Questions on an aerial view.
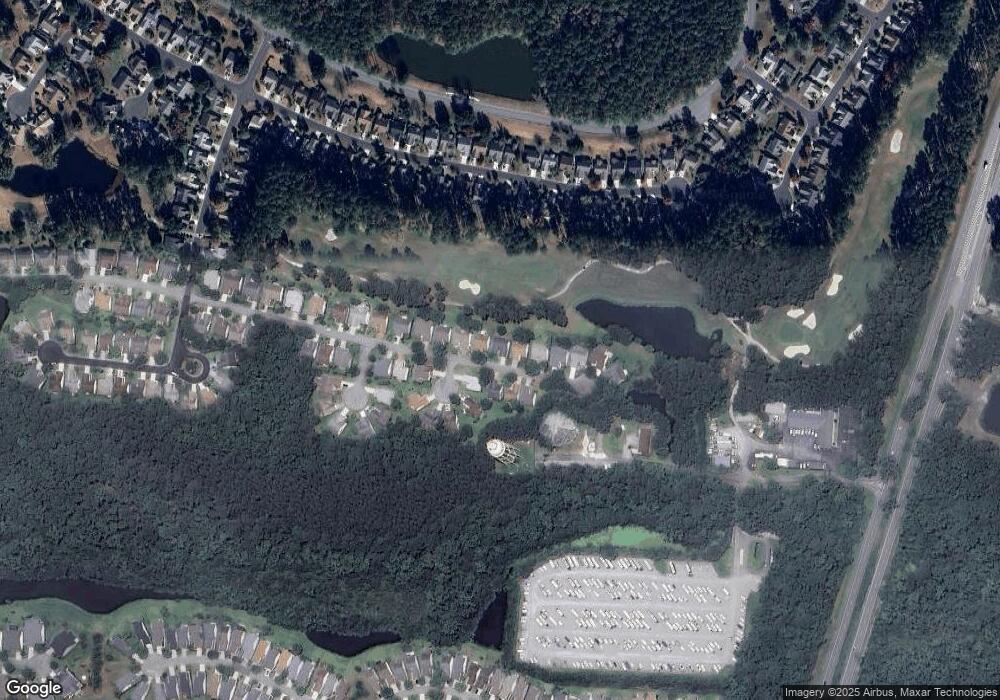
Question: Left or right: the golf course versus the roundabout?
on the right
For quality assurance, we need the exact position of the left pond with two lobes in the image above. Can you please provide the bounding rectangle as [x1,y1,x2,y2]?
[4,138,118,198]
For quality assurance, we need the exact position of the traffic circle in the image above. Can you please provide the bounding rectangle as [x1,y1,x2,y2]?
[176,353,210,385]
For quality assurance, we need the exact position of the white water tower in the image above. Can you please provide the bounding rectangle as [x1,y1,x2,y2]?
[487,438,521,467]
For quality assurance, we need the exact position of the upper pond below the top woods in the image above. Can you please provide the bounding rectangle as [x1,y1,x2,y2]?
[379,34,537,99]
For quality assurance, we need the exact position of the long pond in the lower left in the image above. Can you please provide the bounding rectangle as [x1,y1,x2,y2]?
[0,579,194,614]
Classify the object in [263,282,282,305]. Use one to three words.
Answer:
house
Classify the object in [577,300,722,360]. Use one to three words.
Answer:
pond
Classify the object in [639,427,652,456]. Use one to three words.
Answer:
building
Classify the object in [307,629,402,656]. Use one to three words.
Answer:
pond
